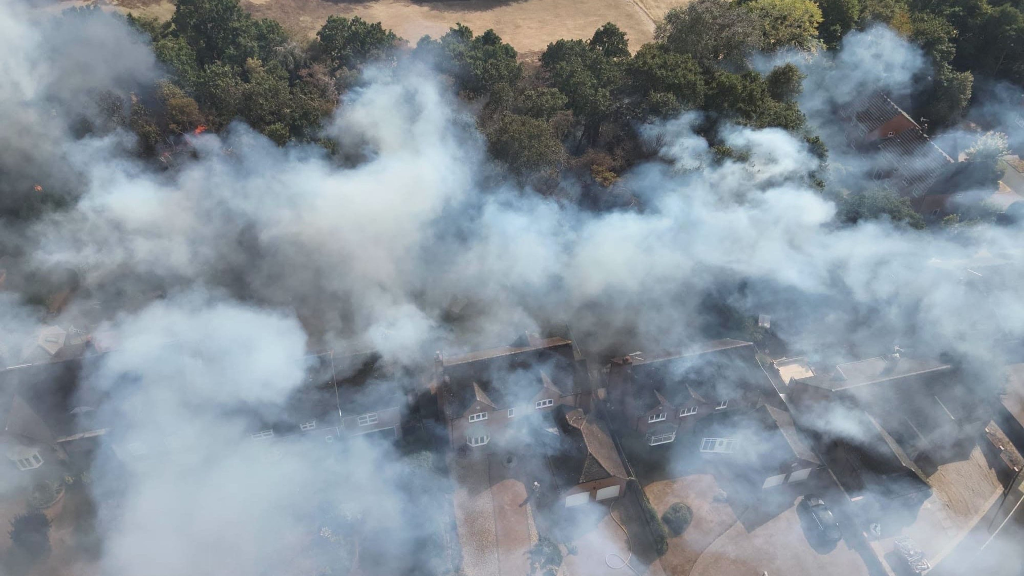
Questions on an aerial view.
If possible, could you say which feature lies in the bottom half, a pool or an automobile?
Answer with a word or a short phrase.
automobile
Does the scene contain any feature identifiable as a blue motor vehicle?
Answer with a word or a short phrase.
No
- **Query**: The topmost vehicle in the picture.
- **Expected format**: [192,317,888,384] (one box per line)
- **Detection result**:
[800,501,844,550]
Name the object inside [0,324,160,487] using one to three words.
house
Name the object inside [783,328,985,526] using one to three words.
house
